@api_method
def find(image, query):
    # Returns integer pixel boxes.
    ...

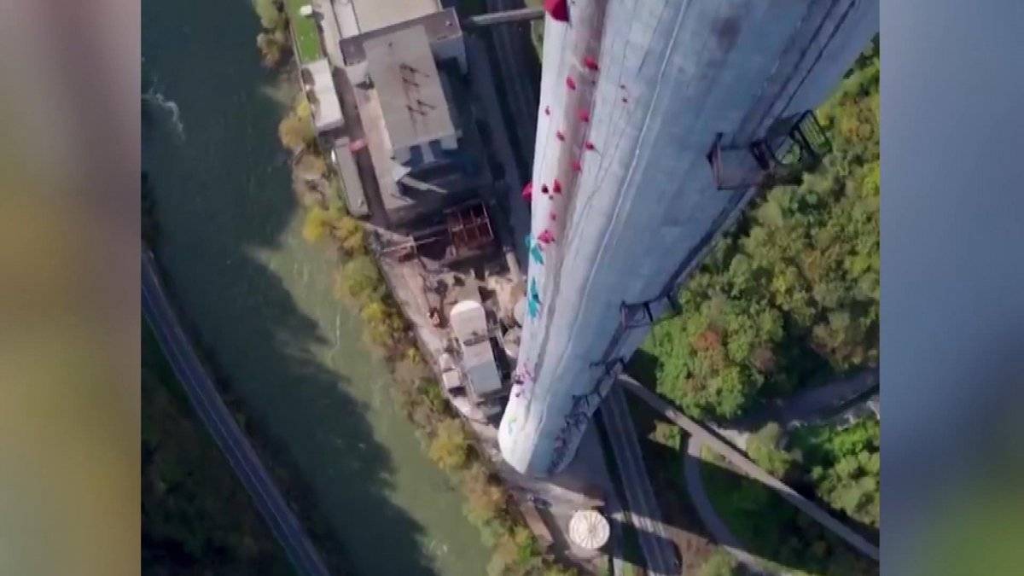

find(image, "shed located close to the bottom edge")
[521,497,555,549]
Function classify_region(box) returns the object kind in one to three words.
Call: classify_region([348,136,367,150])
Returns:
vehicle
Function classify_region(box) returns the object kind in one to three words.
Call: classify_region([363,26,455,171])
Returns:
building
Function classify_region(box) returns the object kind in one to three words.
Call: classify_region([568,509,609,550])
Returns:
storage tank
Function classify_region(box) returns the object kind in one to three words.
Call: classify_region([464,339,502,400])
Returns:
house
